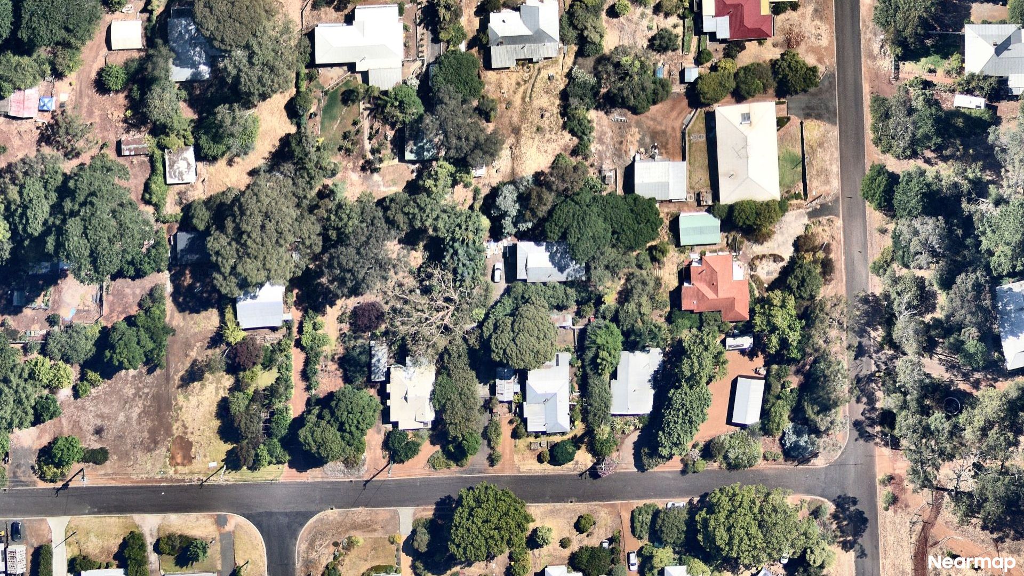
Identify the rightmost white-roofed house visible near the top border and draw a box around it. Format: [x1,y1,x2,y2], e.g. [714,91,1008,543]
[964,22,1024,96]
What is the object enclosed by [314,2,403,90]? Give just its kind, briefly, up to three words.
house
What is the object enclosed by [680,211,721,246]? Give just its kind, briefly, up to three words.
shed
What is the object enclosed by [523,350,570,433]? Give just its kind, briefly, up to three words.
house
